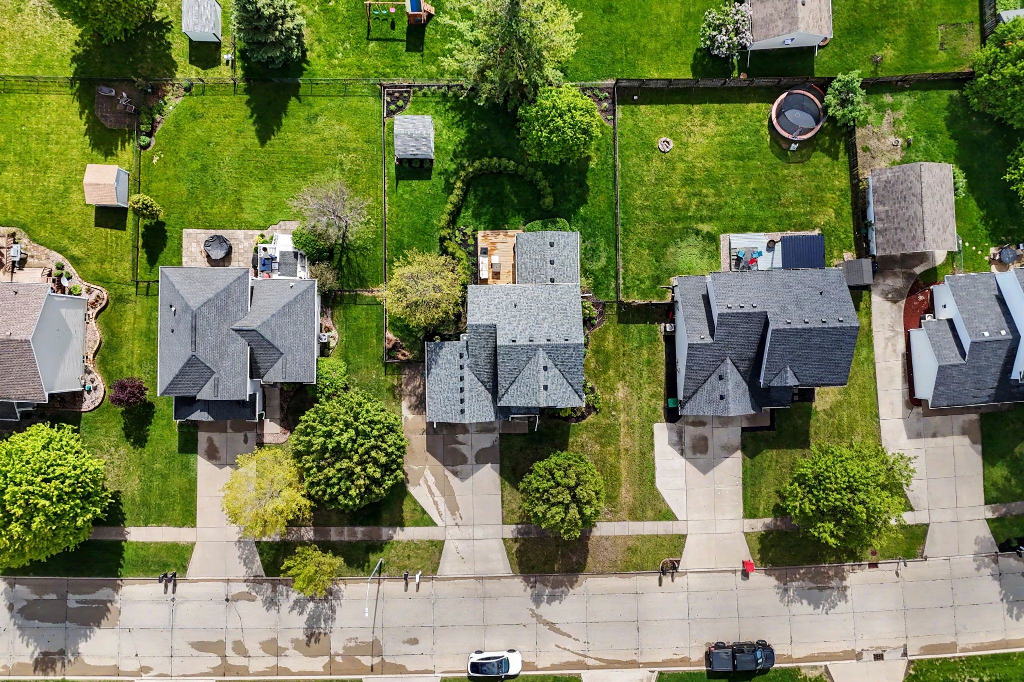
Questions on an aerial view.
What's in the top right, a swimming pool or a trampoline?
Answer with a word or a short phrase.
trampoline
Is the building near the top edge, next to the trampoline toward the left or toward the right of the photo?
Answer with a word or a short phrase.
right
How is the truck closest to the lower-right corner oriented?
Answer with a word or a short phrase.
from left to right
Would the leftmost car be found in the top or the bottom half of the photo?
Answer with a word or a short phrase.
bottom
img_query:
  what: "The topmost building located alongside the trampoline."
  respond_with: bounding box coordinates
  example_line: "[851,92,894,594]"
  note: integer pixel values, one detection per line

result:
[743,0,834,63]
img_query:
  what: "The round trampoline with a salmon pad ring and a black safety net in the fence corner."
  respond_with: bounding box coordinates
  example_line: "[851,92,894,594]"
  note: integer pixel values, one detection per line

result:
[769,81,831,143]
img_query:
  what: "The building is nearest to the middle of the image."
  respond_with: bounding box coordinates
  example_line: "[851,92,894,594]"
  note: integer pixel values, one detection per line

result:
[425,230,585,428]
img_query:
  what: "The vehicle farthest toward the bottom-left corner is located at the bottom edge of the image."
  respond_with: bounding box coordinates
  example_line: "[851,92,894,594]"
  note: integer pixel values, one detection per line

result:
[468,651,522,680]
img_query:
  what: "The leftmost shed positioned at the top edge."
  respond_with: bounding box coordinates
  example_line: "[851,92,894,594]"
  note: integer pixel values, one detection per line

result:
[183,0,222,42]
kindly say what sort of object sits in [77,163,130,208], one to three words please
shed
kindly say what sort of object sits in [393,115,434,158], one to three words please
shed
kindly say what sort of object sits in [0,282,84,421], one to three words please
house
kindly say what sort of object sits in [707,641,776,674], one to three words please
truck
